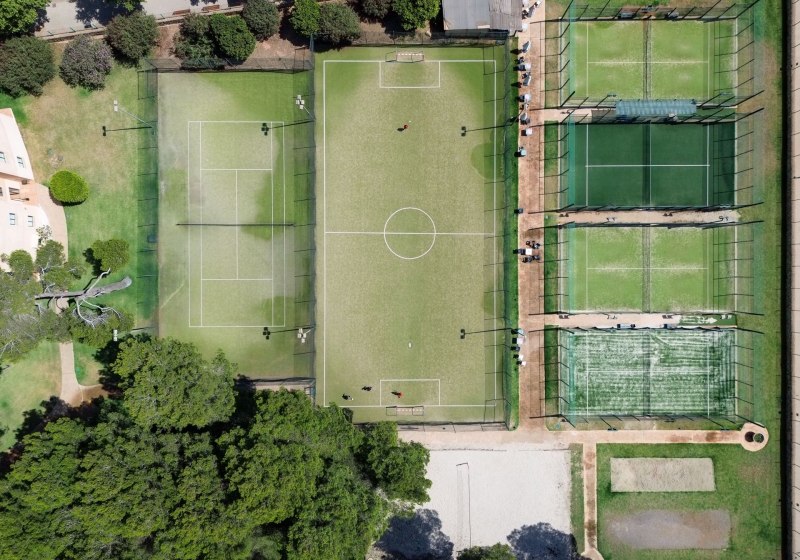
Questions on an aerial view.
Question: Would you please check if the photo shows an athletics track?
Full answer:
No, no athletics track can be seen from above.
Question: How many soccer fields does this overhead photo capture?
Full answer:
Altogether the scene contains 1 soccer field.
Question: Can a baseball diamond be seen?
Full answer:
No, no baseball diamond is visible in the scene.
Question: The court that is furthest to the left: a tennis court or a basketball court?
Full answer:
What you see as the court that is furthest to the left is a tennis court.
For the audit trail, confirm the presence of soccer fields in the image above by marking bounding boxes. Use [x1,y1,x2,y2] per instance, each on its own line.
[316,44,506,425]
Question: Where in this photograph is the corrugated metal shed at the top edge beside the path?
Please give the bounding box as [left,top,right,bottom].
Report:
[444,0,521,37]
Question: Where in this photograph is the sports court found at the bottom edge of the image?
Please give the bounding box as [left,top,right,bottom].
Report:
[368,450,571,560]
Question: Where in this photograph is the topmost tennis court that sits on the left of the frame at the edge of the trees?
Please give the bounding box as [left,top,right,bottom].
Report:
[158,71,316,380]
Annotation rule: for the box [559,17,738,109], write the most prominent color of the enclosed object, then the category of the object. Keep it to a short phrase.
green sports court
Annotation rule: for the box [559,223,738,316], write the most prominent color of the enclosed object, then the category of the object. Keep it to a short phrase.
green sports court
